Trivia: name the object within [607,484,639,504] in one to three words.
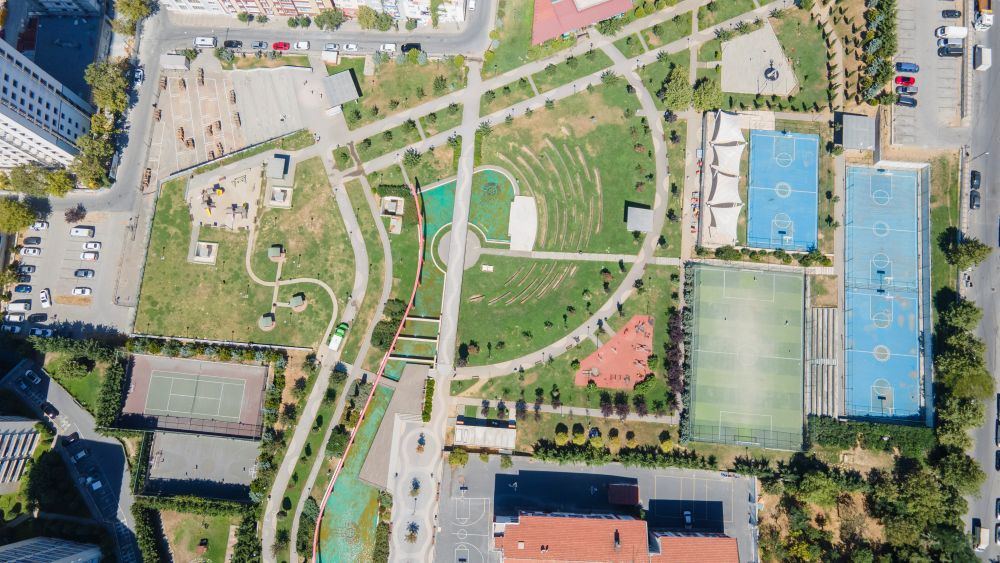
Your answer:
shed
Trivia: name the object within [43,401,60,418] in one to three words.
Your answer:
car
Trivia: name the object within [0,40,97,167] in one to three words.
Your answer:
building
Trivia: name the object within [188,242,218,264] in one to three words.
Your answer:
building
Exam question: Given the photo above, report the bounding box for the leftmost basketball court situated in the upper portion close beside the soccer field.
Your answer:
[747,131,820,251]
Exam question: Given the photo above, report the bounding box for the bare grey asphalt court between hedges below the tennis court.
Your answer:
[144,433,261,502]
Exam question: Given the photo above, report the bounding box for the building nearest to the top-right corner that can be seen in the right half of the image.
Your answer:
[838,115,875,154]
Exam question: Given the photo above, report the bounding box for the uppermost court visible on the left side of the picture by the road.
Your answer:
[120,354,268,439]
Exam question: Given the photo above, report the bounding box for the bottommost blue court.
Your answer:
[846,287,920,417]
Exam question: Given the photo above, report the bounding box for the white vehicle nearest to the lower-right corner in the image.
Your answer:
[973,525,990,550]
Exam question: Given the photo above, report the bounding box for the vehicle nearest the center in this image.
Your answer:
[331,322,354,351]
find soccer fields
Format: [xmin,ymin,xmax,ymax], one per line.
[688,265,806,449]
